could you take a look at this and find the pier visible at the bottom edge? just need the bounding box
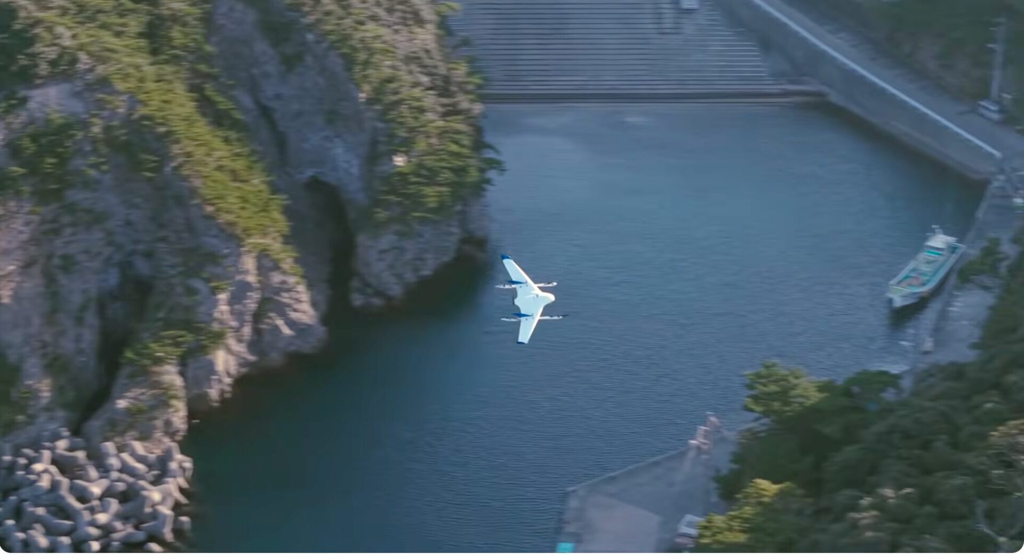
[557,413,782,554]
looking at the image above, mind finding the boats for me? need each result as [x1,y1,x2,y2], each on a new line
[887,225,966,313]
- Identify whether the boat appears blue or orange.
blue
